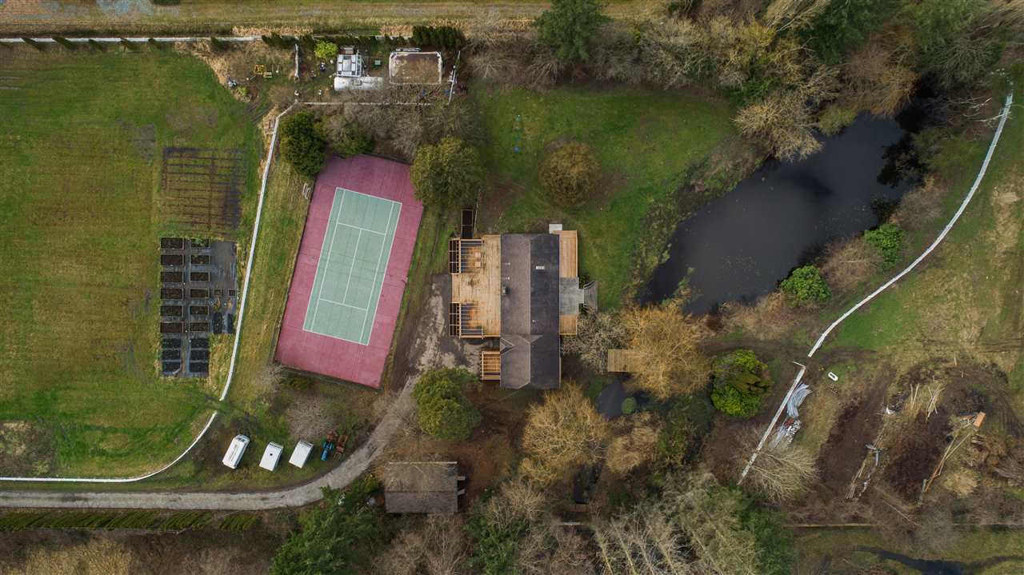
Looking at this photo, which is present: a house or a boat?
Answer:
house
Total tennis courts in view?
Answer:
1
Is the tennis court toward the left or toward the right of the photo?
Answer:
left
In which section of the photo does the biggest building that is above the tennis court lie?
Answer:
top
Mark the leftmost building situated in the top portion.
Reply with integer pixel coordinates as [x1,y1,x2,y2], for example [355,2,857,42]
[390,52,442,89]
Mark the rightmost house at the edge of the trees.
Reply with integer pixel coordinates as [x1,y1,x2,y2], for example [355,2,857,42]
[500,234,561,389]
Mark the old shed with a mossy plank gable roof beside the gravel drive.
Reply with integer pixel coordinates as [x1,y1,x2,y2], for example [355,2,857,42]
[384,461,466,513]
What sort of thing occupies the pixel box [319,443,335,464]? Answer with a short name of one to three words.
work vehicle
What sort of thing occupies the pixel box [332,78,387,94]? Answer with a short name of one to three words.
trailer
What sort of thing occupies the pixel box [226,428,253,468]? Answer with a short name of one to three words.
camper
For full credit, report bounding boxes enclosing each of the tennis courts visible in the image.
[275,147,425,389]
